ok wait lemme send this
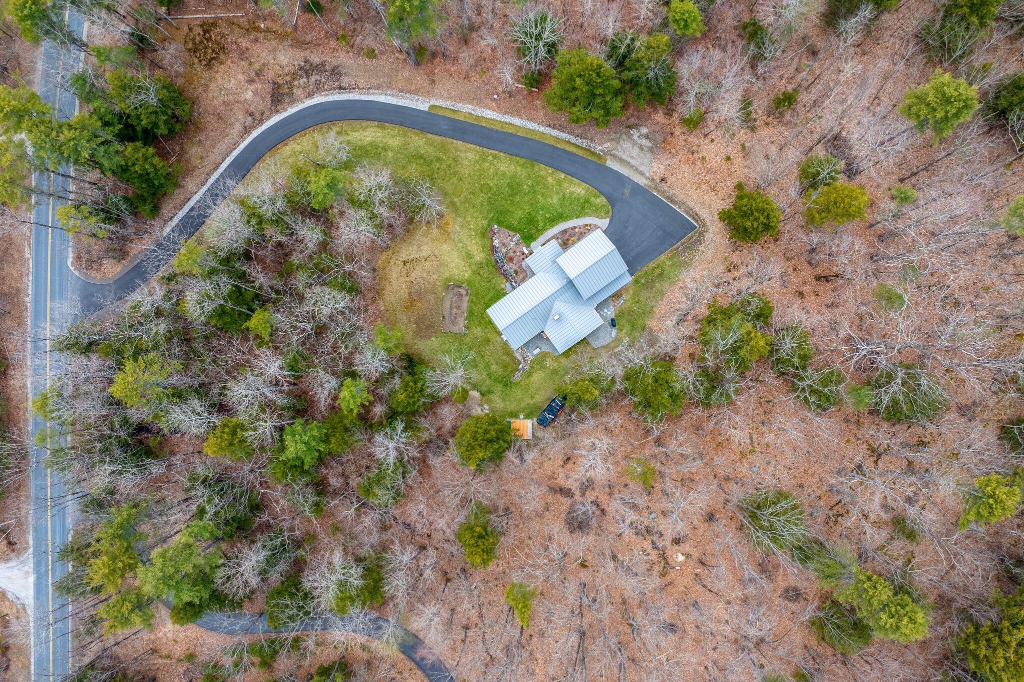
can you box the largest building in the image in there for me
[487,228,632,353]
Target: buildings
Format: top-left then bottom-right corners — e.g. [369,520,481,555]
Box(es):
[487,228,632,353]
[508,419,532,440]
